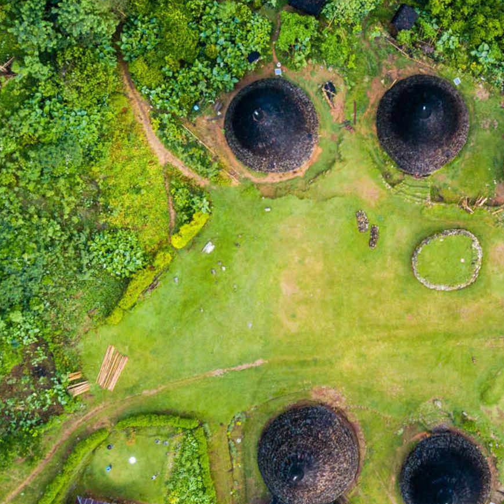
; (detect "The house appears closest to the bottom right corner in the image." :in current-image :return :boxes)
[399,430,491,504]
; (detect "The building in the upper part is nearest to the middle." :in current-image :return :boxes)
[223,78,319,173]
